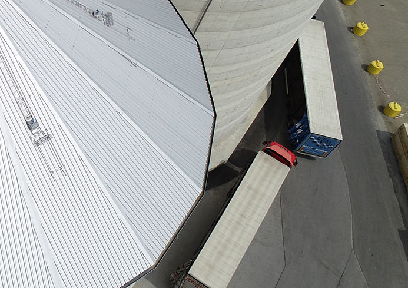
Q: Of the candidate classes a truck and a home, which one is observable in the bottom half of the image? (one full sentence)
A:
There is a truck in the bottom half of the image.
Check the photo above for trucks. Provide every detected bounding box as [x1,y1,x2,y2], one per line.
[165,135,300,288]
[282,11,343,162]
